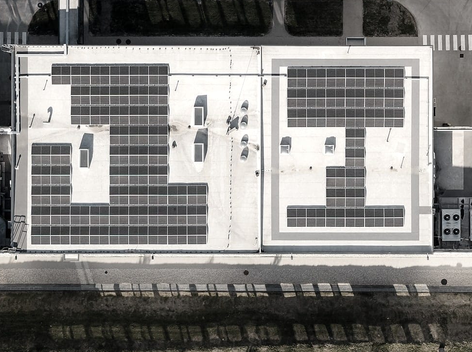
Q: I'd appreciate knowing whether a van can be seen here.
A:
No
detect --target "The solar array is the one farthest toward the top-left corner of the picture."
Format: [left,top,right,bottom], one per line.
[32,66,207,246]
